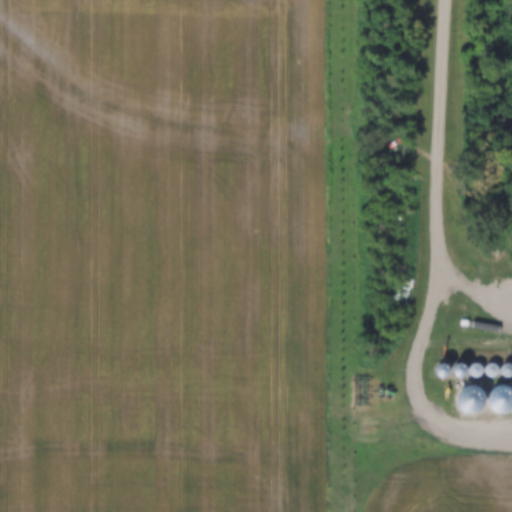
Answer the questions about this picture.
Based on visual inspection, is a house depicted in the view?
No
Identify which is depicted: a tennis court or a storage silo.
storage silo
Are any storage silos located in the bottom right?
Yes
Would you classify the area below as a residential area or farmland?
farmland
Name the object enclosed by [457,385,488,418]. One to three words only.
silo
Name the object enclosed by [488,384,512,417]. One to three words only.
silo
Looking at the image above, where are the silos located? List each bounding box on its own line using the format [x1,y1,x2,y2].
[435,363,452,382]
[501,362,512,379]
[457,385,488,418]
[469,362,486,379]
[488,384,512,417]
[485,362,502,379]
[452,363,470,382]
